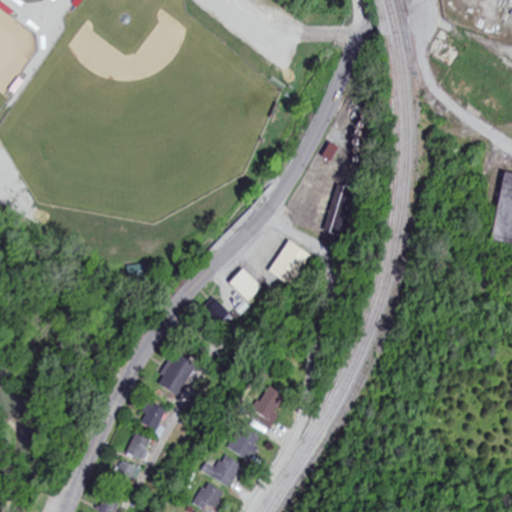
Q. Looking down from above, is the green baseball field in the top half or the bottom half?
top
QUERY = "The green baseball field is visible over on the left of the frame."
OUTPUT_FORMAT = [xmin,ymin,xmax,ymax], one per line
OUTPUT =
[0,0,282,225]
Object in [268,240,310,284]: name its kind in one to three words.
building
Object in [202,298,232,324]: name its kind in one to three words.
house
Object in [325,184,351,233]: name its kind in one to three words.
barn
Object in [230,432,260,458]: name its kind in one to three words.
house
